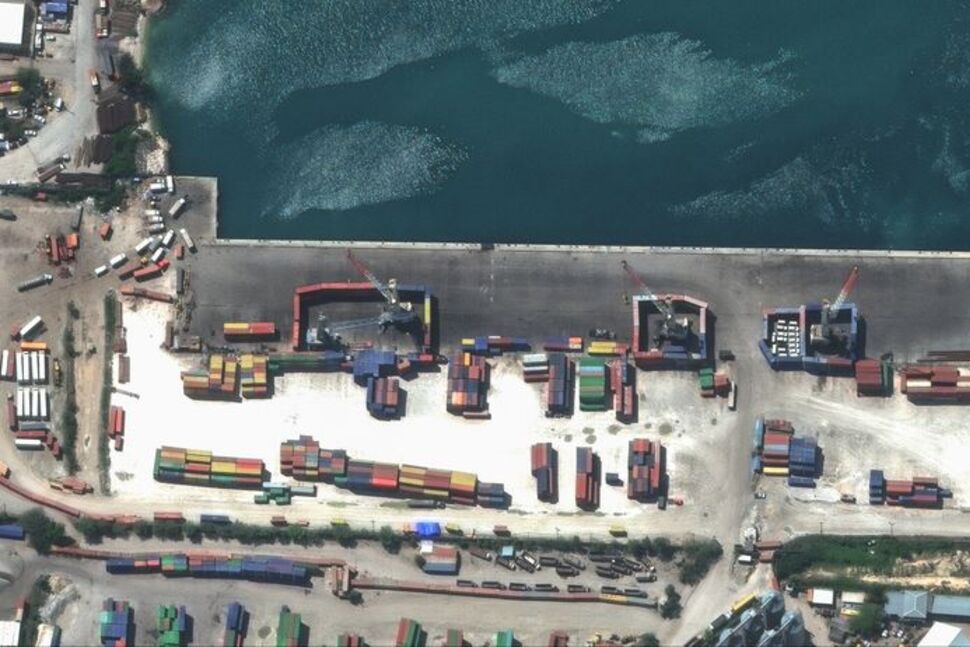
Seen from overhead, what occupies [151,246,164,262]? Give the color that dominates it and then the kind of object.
white vehicle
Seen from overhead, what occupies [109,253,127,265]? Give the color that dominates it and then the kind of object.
white vehicle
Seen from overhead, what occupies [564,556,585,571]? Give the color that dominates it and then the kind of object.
gray vehicle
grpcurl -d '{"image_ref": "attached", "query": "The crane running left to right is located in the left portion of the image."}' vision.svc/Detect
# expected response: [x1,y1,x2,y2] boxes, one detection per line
[301,316,395,350]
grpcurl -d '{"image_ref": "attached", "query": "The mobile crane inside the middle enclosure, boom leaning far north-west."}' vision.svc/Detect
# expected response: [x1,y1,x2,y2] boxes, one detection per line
[621,261,691,344]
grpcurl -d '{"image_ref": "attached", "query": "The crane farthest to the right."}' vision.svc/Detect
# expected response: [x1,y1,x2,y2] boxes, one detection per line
[808,266,857,345]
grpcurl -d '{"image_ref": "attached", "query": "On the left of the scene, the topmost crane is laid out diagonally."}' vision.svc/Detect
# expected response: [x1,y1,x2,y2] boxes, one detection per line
[347,254,414,326]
